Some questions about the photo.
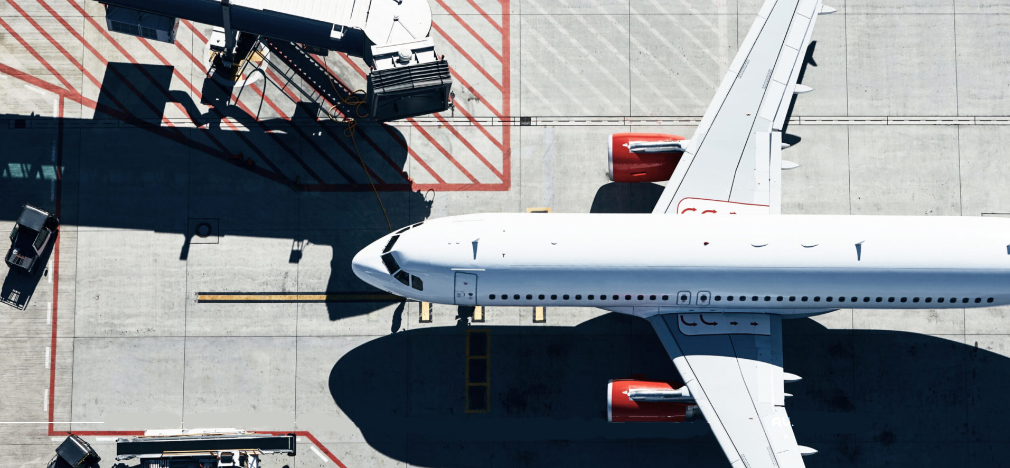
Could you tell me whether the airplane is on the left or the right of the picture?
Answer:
right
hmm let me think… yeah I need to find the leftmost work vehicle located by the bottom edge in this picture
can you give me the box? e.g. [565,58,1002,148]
[48,433,102,468]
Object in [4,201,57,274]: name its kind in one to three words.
work vehicle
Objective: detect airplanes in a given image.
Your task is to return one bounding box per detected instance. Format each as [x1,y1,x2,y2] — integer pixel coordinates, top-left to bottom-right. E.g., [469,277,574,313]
[352,0,1010,468]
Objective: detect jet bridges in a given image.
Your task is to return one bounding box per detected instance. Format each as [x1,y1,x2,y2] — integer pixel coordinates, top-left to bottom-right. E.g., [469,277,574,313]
[103,0,463,124]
